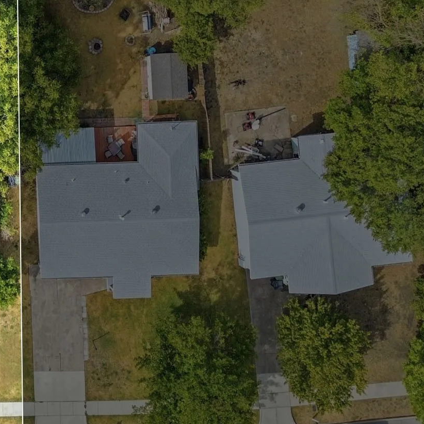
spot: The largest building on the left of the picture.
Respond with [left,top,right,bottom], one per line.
[35,120,201,299]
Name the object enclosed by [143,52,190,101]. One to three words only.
shed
